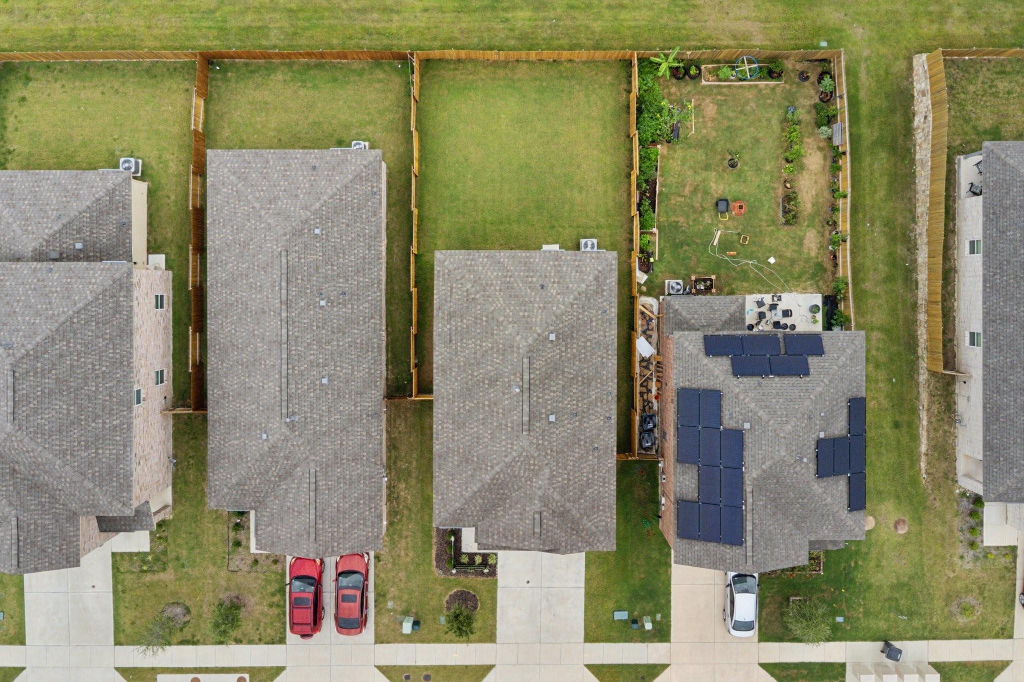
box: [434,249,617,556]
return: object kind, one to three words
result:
house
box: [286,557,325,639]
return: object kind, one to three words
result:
car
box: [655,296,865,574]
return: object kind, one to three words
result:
house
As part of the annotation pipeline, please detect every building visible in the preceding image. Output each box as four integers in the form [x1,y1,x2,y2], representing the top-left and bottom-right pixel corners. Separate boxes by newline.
[0,168,178,574]
[655,296,865,574]
[434,249,617,556]
[952,141,1024,535]
[207,147,387,560]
